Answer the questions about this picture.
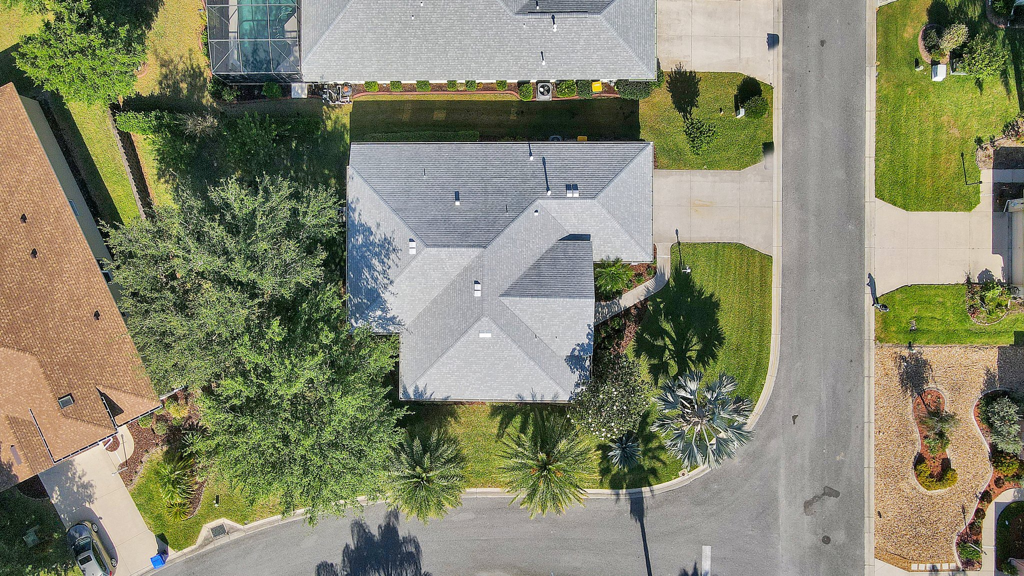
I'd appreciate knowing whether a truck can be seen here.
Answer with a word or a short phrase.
No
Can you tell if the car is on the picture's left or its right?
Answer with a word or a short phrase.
left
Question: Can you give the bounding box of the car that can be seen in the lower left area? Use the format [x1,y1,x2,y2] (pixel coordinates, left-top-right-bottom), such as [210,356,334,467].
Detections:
[73,517,120,576]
